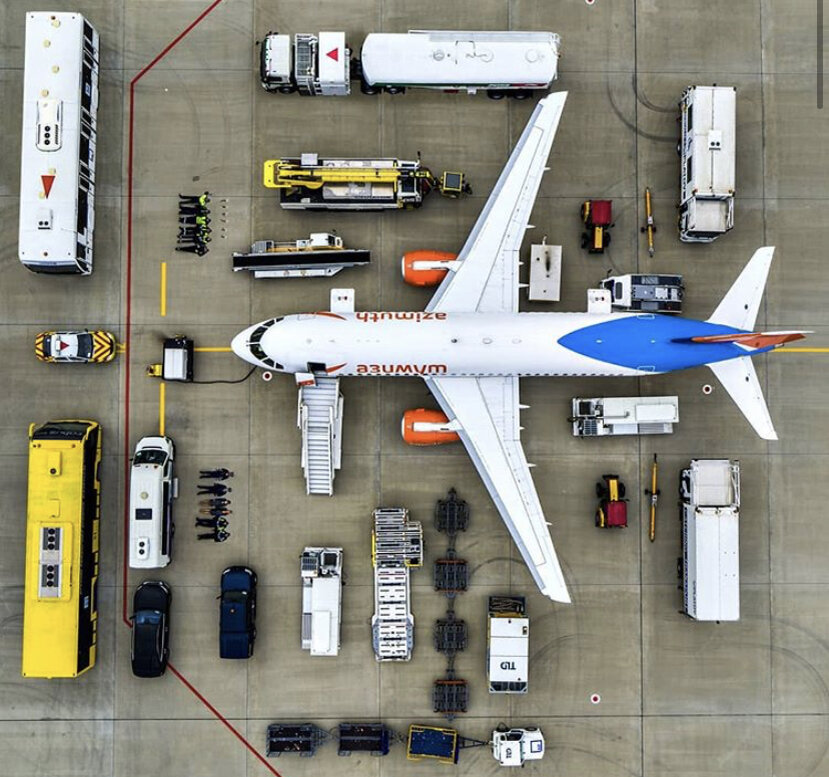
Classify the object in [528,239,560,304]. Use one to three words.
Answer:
trailer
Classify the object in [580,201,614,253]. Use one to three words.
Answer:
work vehicle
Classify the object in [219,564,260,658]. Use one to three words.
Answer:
truck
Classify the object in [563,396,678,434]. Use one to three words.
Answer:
vehicle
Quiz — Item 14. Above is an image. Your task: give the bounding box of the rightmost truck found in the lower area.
[677,469,741,622]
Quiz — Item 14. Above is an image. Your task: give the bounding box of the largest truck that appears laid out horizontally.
[253,32,559,99]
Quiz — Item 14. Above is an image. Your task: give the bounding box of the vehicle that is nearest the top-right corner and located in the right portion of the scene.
[676,86,738,245]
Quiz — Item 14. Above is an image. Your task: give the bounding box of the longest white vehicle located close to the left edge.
[19,12,98,274]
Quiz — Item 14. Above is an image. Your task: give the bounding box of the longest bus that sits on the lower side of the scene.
[21,421,100,678]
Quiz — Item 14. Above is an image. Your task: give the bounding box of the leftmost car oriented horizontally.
[37,328,119,367]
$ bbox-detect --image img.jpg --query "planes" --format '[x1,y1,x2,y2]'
[232,91,814,604]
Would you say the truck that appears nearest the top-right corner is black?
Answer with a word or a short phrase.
No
